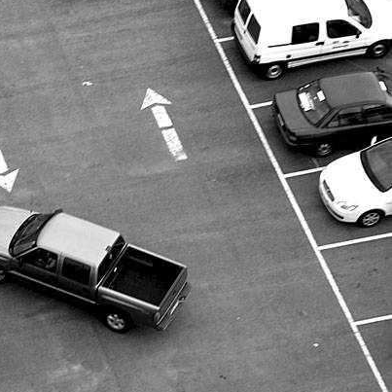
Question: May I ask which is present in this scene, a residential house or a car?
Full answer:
This aerial view contains a car.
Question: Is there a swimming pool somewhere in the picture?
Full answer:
No, there isn't any swimming pool down there.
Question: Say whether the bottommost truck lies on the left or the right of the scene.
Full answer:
You can find the bottommost truck on the left side of the picture.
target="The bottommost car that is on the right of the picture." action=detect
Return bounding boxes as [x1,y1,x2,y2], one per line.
[320,138,392,226]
